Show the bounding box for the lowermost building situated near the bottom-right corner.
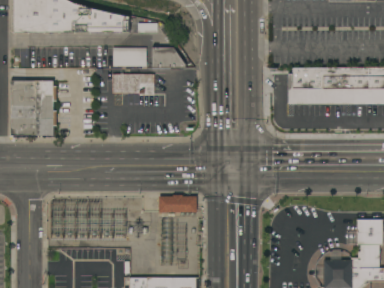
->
[324,256,352,288]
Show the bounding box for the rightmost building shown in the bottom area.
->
[352,220,384,288]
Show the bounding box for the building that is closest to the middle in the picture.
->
[160,194,198,216]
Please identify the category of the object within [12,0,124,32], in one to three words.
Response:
building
